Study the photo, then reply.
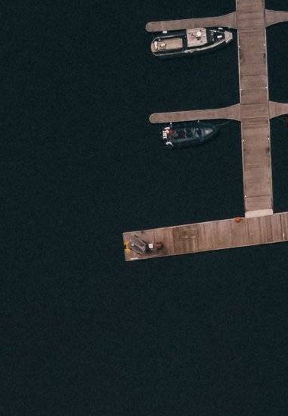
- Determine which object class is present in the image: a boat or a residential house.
boat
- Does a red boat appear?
No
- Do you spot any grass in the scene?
No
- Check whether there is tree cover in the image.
No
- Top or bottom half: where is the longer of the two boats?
top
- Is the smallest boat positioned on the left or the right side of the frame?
right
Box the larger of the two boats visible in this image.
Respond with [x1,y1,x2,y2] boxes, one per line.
[151,27,232,59]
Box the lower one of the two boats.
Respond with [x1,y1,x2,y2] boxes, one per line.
[162,121,215,149]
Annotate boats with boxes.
[151,27,232,59]
[162,121,215,149]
